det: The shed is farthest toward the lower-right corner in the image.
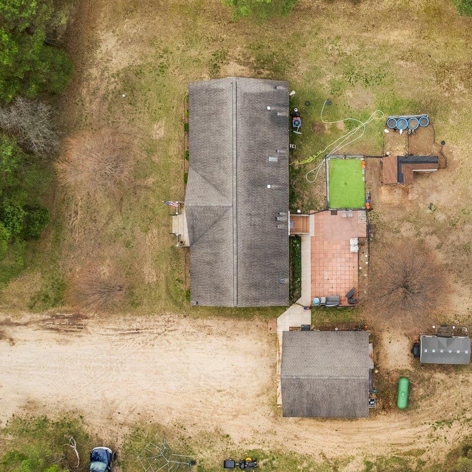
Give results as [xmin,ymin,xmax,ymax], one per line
[419,333,471,363]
